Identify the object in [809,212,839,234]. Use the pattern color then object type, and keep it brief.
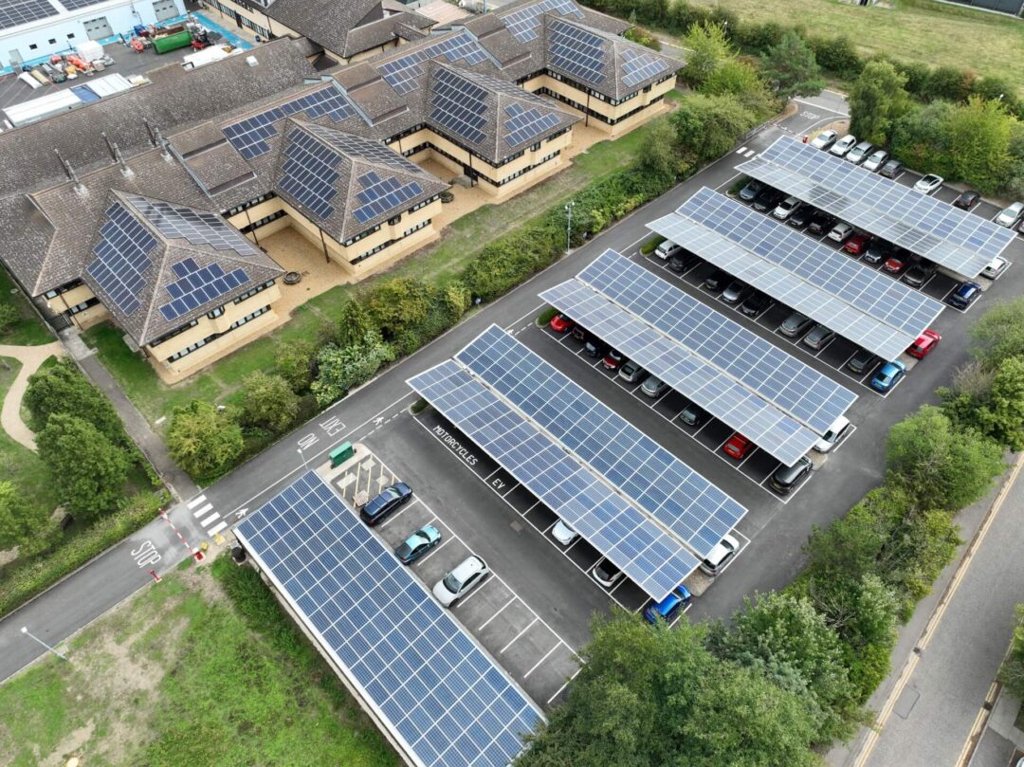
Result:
black car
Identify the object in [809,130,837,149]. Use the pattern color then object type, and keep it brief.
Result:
white car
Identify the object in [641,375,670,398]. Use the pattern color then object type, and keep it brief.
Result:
gray car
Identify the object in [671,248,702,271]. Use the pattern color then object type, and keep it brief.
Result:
black car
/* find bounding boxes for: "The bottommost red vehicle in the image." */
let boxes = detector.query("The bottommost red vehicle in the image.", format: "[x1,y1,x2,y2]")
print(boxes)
[724,432,756,460]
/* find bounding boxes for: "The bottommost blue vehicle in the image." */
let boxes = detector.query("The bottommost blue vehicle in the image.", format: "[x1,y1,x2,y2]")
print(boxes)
[643,584,692,631]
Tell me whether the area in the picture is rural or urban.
urban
